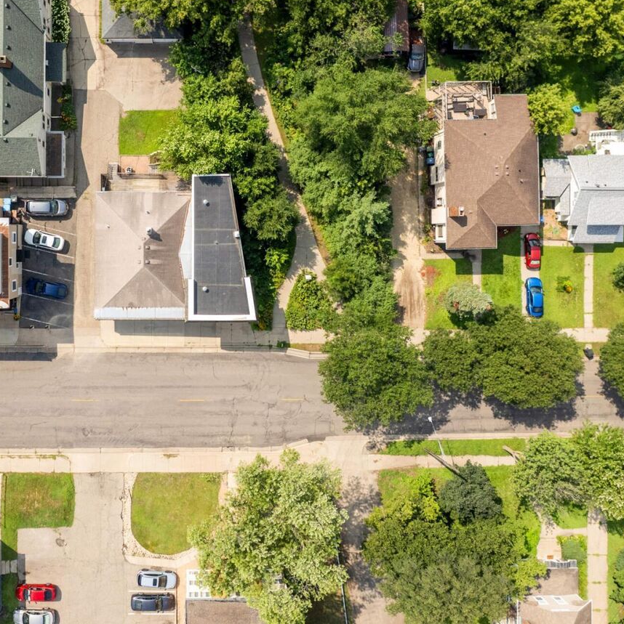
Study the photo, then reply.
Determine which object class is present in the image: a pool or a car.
car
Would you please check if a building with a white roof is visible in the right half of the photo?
Yes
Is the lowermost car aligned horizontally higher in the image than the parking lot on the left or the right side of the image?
left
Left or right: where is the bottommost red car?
left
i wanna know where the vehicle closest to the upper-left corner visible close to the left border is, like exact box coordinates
[25,198,67,217]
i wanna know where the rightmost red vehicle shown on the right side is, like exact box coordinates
[523,231,543,269]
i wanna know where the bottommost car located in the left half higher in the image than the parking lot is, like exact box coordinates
[26,277,68,298]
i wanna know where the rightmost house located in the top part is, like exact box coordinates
[536,156,624,243]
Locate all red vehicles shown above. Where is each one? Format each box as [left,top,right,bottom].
[16,582,57,604]
[523,231,543,269]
